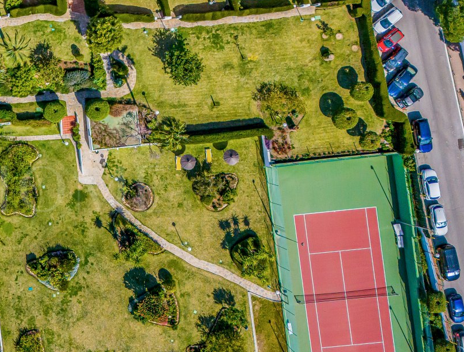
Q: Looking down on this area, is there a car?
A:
Yes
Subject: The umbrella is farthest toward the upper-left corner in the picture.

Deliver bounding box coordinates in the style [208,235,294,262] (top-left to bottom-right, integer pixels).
[180,154,196,170]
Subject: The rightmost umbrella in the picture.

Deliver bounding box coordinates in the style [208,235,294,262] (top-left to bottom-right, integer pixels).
[223,149,239,165]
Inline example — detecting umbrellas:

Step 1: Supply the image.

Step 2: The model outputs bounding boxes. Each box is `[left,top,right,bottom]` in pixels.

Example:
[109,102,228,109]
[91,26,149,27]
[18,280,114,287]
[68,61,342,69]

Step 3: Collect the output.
[180,154,196,170]
[223,149,239,165]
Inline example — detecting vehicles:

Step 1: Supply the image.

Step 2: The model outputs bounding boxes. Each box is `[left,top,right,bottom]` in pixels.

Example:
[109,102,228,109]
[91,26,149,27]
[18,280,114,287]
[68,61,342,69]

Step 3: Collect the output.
[379,27,408,53]
[411,117,434,152]
[390,66,420,96]
[437,242,463,281]
[451,328,464,352]
[384,45,411,73]
[427,201,449,236]
[418,166,440,201]
[447,292,464,323]
[372,0,393,12]
[394,84,424,110]
[376,5,404,33]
